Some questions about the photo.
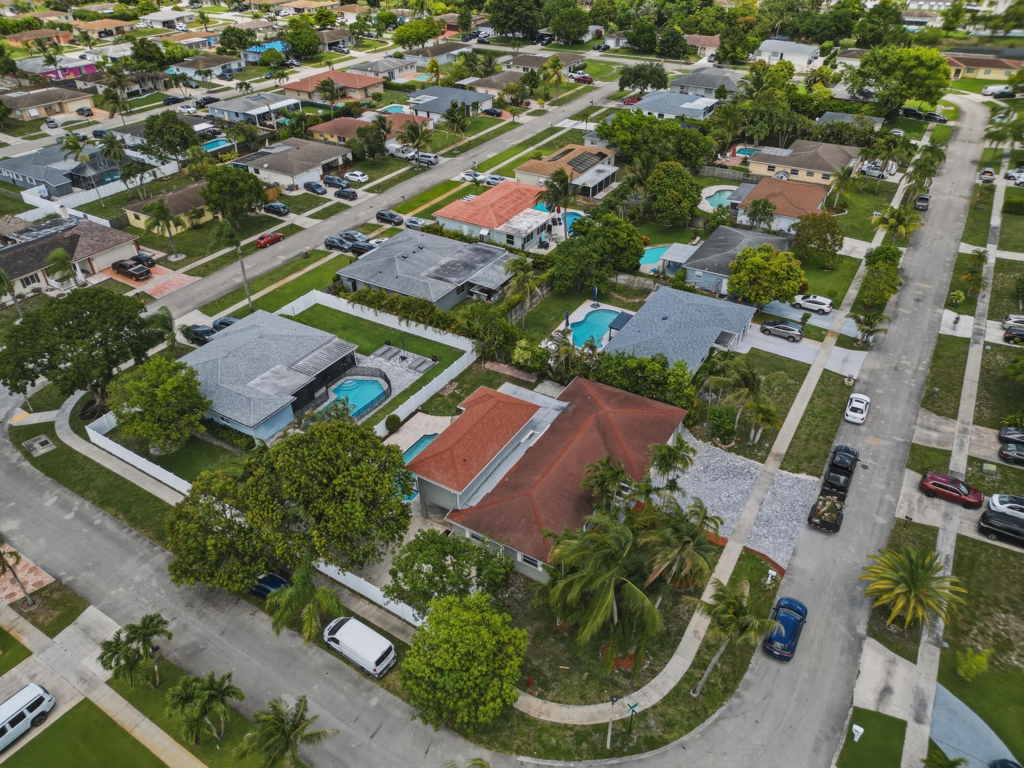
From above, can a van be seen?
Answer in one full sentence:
Yes, there's a van down there.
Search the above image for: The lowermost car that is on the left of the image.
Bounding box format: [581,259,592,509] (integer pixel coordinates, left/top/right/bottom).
[0,672,68,761]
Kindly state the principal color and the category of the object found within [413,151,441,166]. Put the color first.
gray car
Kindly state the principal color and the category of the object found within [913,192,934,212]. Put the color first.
gray vehicle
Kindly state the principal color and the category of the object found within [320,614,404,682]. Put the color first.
white van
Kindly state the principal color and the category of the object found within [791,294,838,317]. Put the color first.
white car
